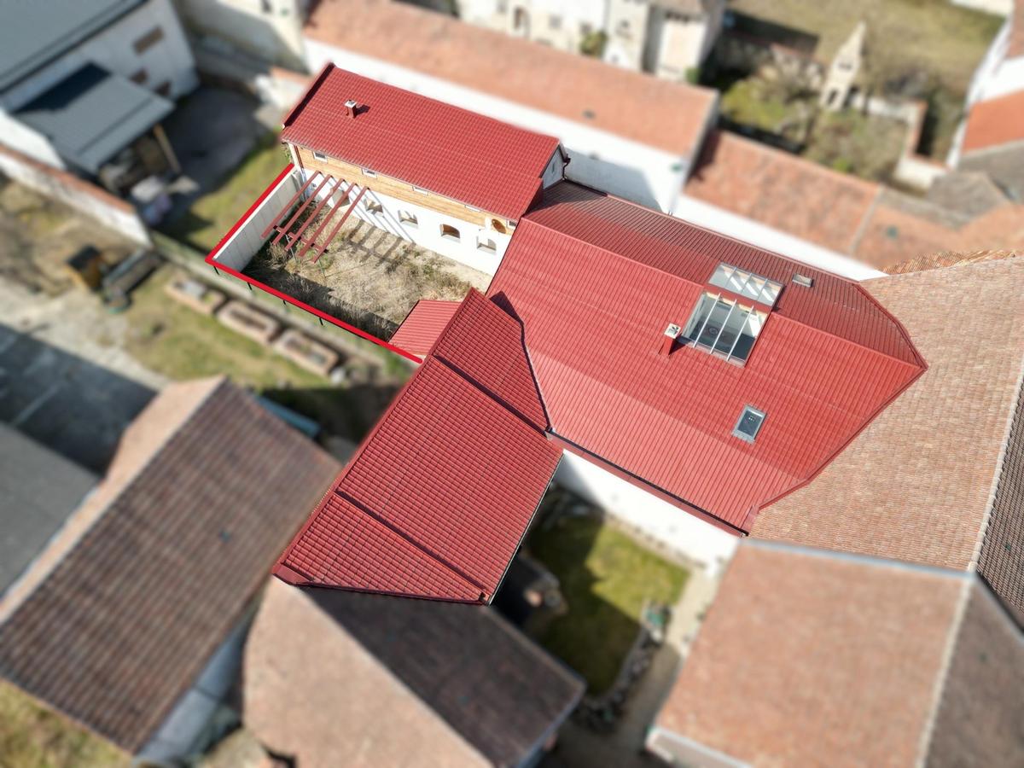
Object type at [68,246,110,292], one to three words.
shed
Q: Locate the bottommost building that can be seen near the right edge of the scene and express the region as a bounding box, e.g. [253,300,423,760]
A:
[644,539,1024,768]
